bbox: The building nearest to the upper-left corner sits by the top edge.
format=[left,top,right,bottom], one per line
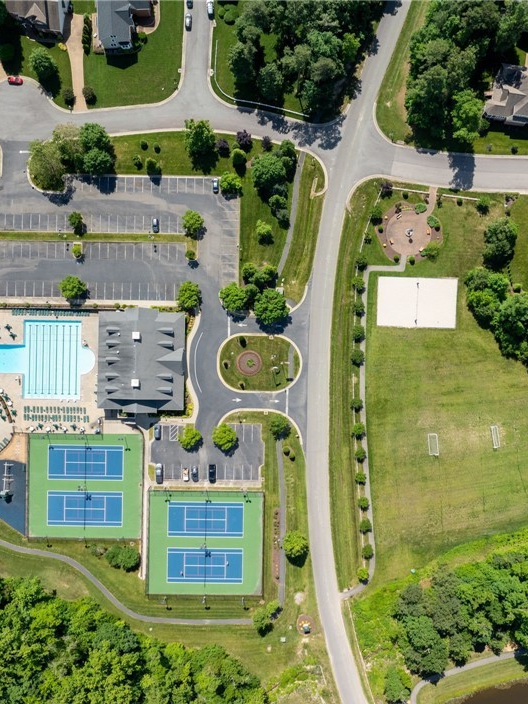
[5,0,65,40]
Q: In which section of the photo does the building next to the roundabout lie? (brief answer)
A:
left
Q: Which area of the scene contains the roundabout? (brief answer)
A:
center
